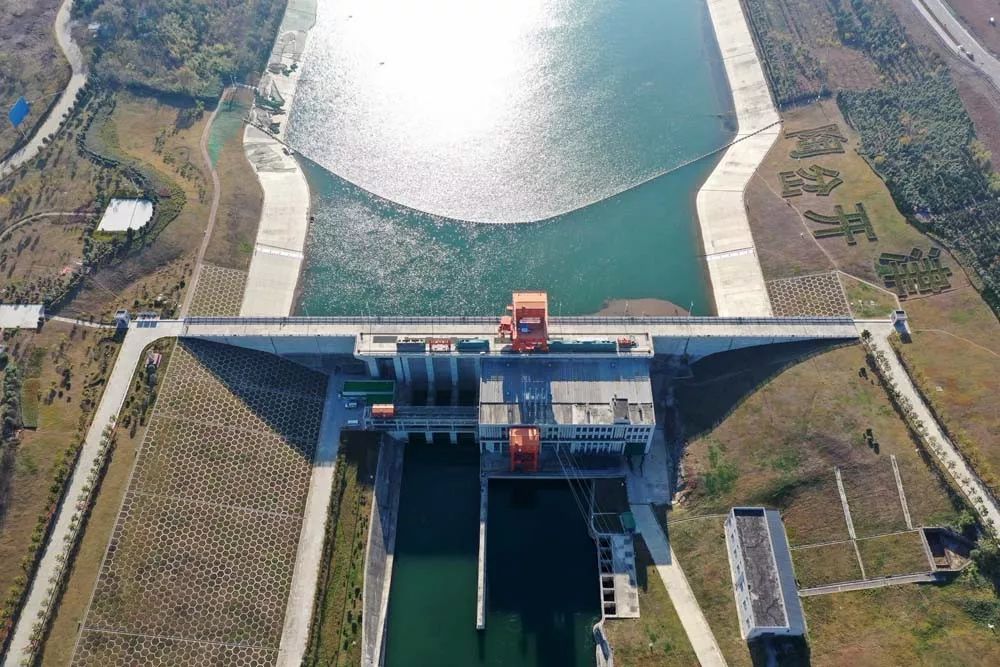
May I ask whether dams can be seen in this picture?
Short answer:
Yes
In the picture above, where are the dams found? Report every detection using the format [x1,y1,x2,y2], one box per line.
[182,315,864,408]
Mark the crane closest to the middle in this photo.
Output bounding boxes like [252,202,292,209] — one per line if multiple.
[502,285,551,352]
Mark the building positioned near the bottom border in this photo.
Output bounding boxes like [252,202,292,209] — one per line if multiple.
[720,507,812,644]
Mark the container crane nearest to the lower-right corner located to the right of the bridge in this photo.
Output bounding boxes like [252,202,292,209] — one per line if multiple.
[510,428,541,472]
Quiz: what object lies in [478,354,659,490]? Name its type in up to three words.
building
